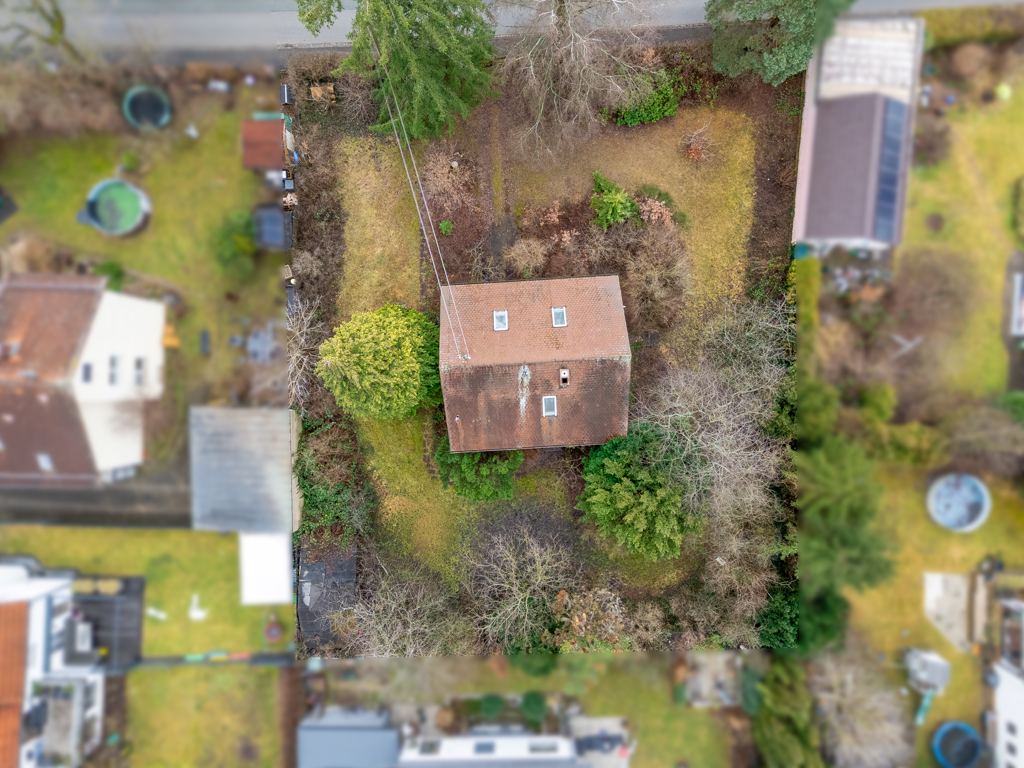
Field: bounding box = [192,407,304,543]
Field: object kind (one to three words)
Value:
building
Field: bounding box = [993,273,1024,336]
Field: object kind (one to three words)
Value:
greenhouse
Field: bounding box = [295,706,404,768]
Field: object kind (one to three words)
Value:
building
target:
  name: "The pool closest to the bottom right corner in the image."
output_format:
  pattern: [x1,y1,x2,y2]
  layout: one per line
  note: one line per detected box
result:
[916,468,990,534]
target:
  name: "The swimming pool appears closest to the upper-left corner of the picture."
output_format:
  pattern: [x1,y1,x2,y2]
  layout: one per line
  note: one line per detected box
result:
[88,176,156,239]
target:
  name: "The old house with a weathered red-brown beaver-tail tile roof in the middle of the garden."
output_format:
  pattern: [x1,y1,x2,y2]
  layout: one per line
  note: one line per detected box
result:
[440,272,633,451]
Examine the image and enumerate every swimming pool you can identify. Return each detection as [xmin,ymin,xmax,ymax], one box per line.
[88,176,156,239]
[916,468,990,534]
